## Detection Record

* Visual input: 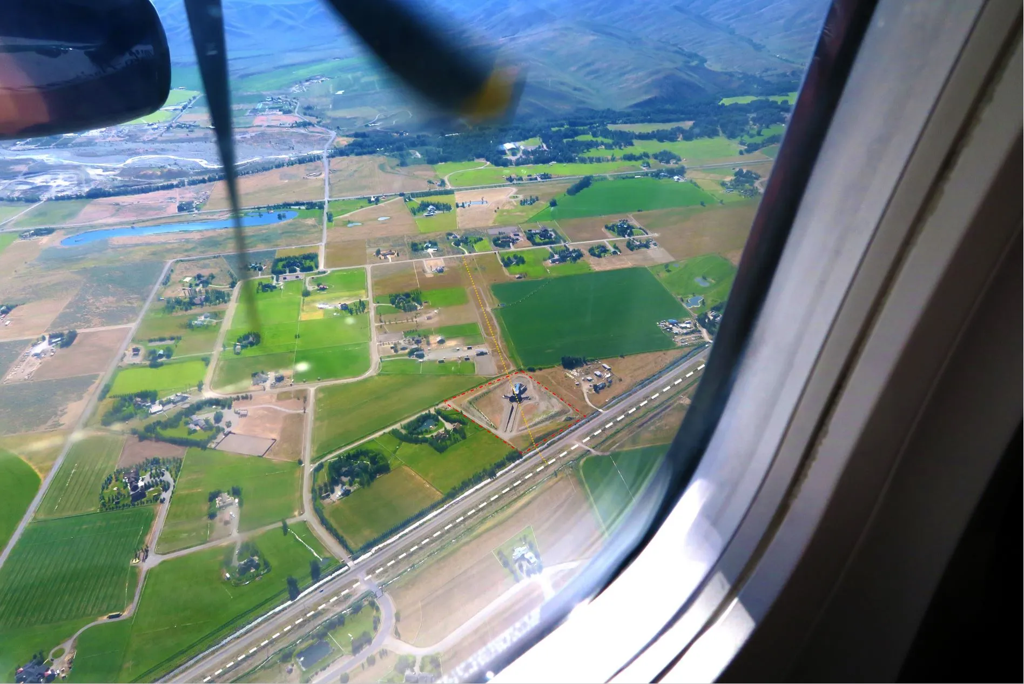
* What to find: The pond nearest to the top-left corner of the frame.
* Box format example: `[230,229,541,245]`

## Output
[61,210,298,246]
